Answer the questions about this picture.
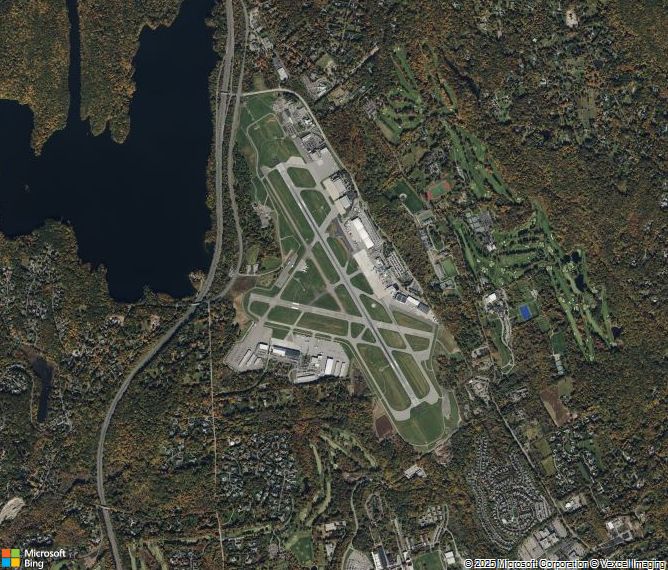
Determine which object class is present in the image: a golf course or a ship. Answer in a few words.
golf course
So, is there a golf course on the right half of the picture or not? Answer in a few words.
Yes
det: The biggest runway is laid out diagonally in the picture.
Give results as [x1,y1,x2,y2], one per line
[277,162,421,405]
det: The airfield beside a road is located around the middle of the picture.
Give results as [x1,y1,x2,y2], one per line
[223,91,460,453]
